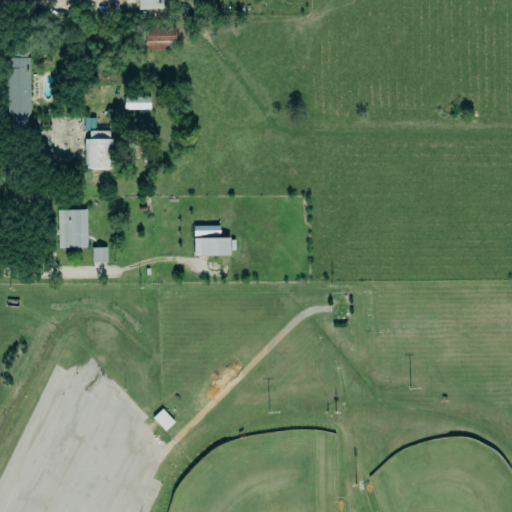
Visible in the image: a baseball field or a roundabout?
baseball field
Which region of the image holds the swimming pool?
top left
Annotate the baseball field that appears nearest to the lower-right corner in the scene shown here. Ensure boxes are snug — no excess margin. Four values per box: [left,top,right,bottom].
[366,436,512,512]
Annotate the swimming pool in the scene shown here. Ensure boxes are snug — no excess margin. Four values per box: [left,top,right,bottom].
[32,72,54,102]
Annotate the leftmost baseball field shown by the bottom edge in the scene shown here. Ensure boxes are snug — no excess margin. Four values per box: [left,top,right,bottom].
[168,430,344,512]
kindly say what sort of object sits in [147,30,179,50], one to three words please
barn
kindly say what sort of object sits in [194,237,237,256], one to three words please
house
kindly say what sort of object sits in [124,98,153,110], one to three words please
house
